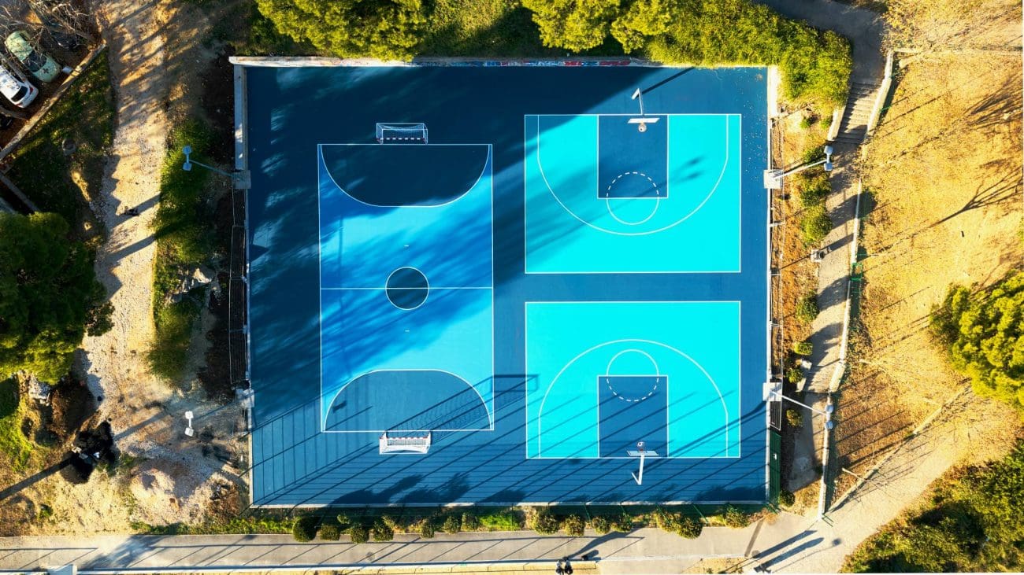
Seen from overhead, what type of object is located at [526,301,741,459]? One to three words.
basketball court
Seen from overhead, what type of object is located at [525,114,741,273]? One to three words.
basketball court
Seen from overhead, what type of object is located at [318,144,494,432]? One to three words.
soccer field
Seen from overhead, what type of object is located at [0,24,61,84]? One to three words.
car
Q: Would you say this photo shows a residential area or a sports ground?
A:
sports ground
